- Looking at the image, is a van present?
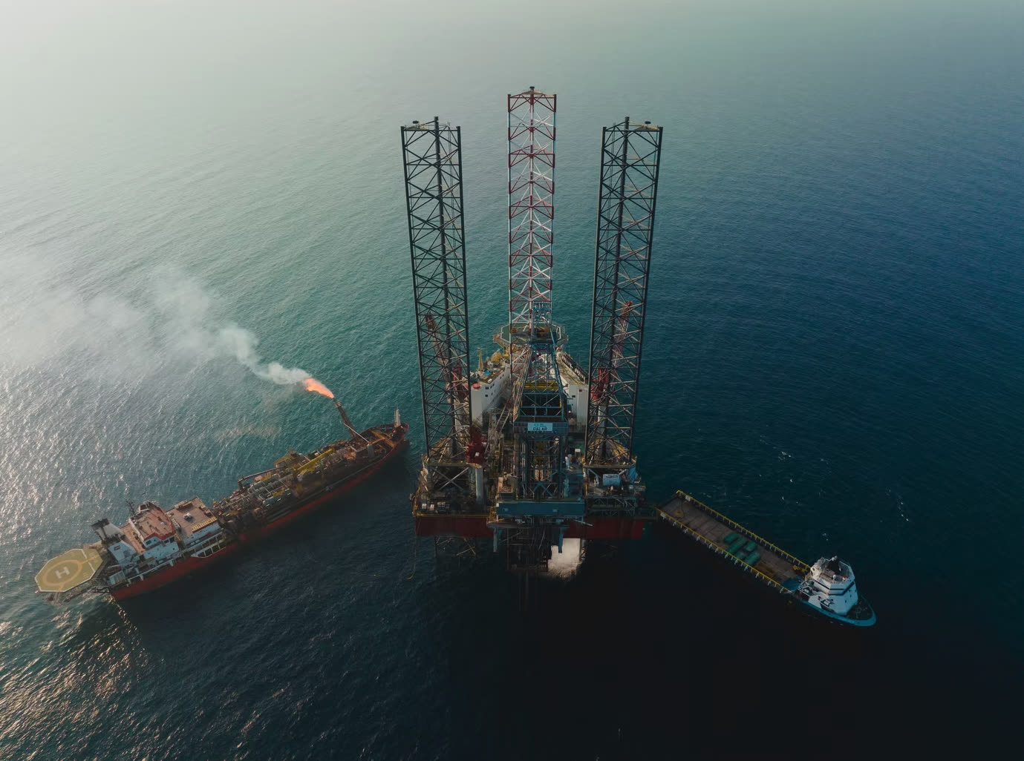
No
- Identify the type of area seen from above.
port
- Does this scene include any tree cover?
No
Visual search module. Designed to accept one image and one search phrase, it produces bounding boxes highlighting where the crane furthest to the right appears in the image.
[592,295,632,437]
